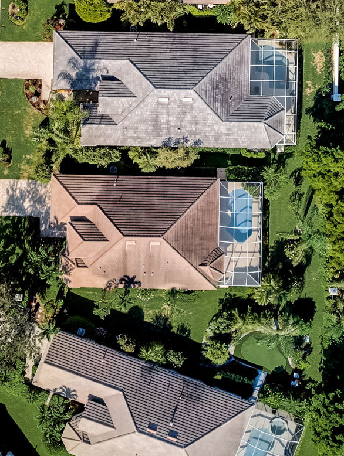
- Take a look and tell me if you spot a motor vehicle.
No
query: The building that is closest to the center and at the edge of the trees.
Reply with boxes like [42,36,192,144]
[49,175,225,290]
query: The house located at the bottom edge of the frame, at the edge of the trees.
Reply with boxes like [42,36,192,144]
[33,327,255,456]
